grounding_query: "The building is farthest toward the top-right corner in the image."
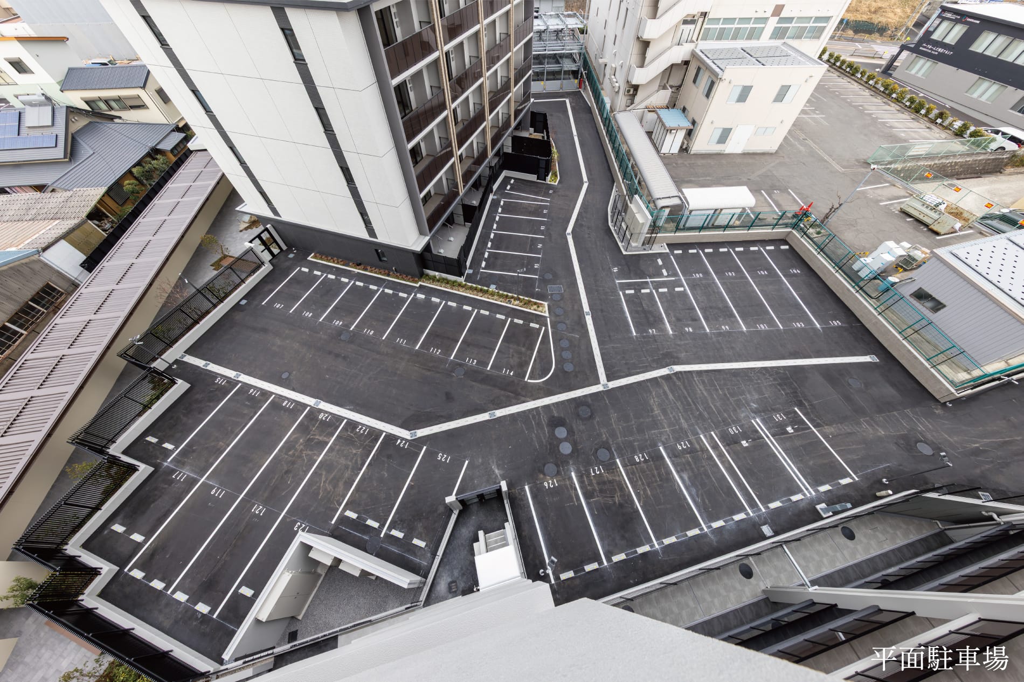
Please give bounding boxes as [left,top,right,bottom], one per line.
[882,0,1024,124]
